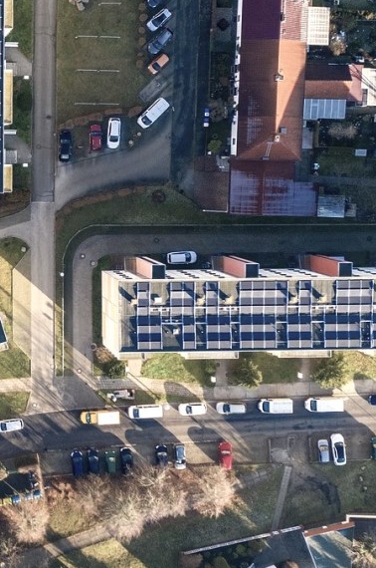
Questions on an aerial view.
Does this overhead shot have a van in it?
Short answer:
Yes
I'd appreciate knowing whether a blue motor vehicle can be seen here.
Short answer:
Yes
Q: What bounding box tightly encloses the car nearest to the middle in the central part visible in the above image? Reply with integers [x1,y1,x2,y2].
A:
[165,250,196,265]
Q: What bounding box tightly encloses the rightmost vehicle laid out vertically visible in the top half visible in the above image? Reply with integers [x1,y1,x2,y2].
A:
[107,117,122,149]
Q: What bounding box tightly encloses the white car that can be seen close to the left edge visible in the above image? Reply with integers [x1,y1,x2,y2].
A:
[0,418,24,434]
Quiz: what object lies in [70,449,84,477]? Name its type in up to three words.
vehicle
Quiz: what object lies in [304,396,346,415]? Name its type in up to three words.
vehicle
